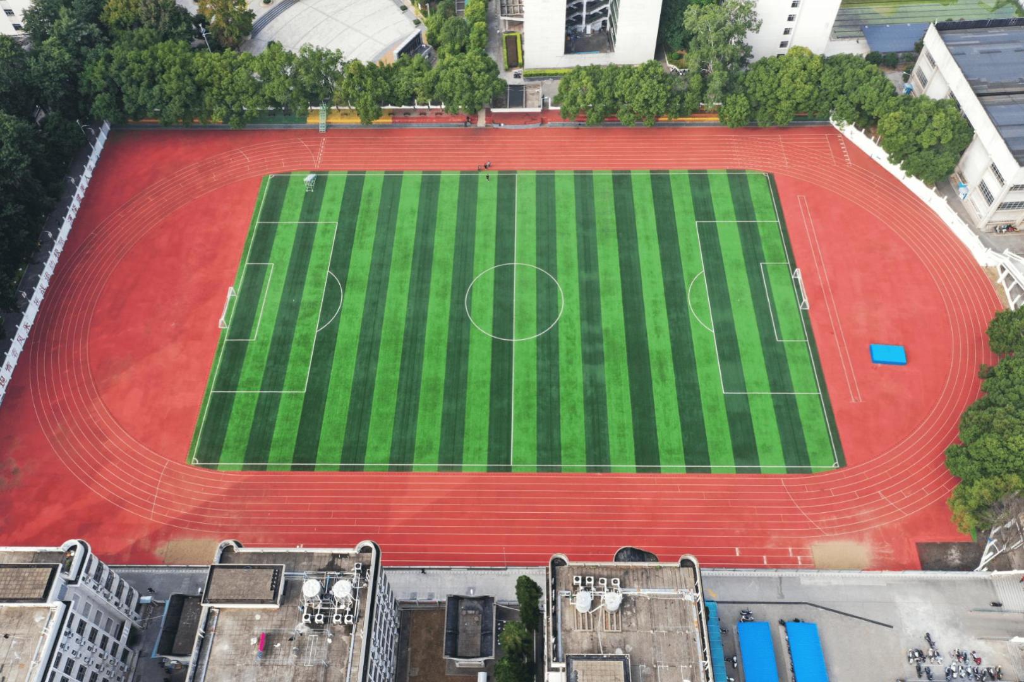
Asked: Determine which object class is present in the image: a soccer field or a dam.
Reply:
soccer field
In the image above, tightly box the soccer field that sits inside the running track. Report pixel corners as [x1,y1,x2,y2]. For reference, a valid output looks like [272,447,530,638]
[184,169,847,474]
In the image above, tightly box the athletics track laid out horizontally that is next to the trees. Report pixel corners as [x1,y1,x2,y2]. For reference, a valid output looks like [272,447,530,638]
[0,127,1010,569]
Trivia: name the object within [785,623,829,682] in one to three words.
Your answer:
shed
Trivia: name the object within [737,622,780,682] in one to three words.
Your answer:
shed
